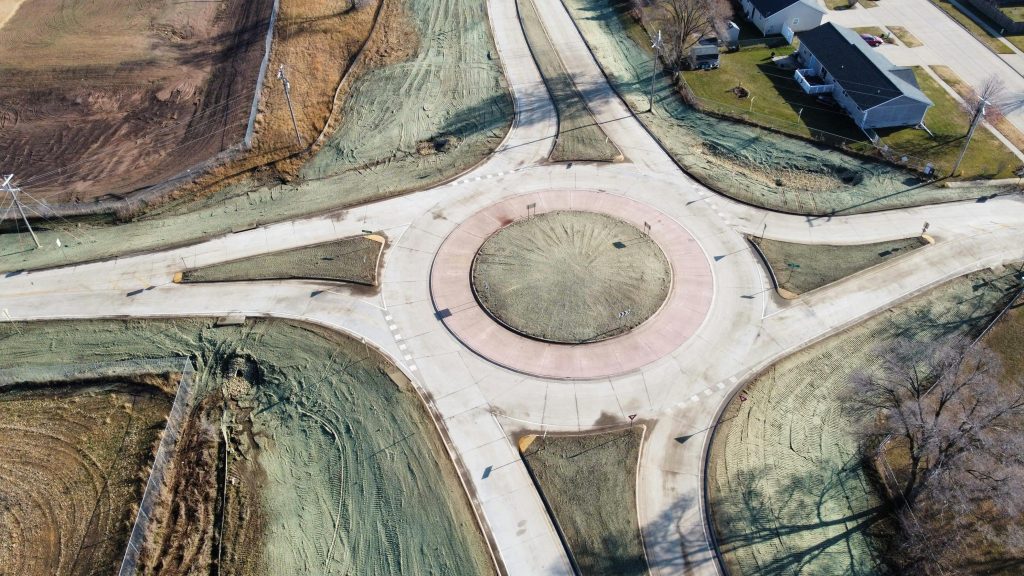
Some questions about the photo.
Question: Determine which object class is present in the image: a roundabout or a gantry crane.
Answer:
roundabout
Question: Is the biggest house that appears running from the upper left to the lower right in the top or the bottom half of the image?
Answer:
top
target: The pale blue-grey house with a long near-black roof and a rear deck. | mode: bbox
[792,15,937,134]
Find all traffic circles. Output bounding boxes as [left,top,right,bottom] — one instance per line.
[331,163,807,451]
